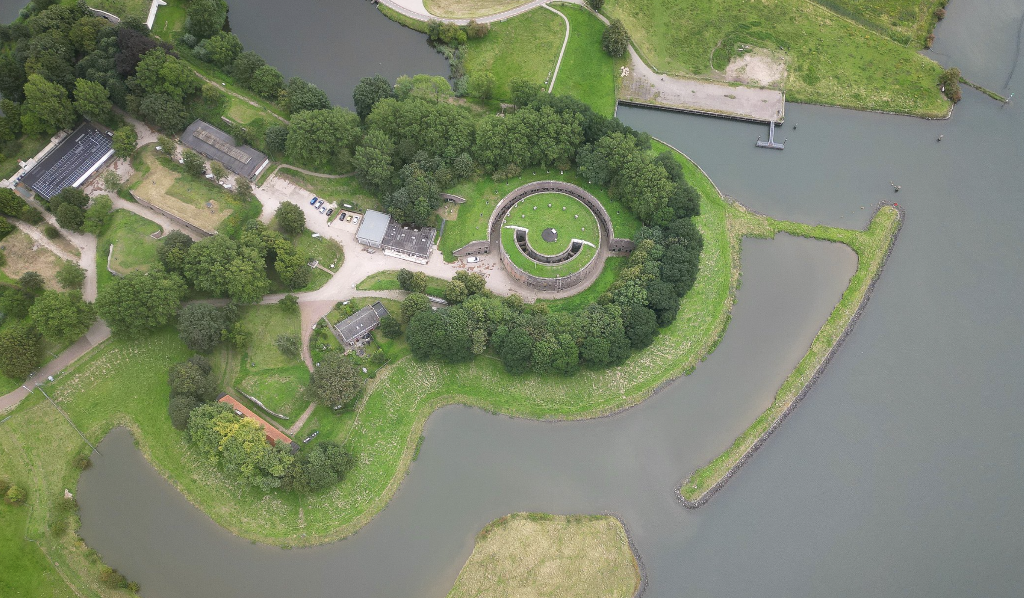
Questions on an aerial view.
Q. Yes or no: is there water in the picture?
Yes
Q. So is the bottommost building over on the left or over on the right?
left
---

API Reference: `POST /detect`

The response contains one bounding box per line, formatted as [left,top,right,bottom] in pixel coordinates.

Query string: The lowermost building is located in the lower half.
[213,389,302,458]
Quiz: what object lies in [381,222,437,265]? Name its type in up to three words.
building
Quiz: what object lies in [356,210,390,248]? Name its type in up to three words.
building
